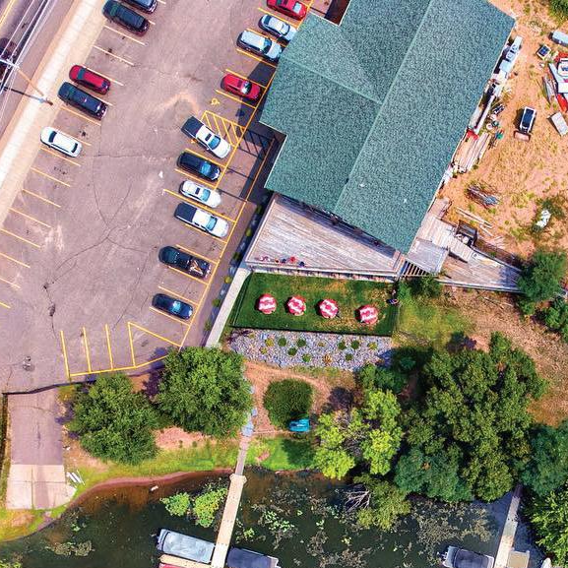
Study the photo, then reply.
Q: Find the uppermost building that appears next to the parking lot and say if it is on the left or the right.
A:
right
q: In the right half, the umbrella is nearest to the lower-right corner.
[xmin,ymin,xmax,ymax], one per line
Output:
[357,300,377,321]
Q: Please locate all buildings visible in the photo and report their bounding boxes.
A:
[258,0,516,254]
[455,216,477,244]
